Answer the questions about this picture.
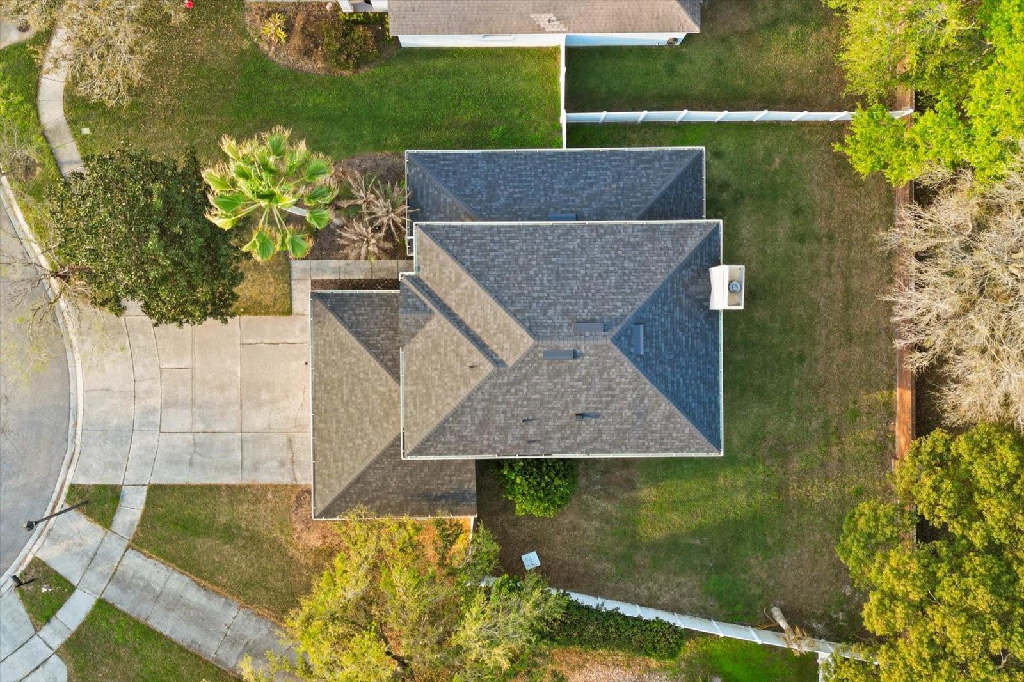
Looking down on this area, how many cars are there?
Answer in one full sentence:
There are no cars in this view.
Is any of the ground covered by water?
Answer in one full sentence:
No, there is no water in the image.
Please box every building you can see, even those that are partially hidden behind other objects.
[308,146,745,522]
[335,0,703,47]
